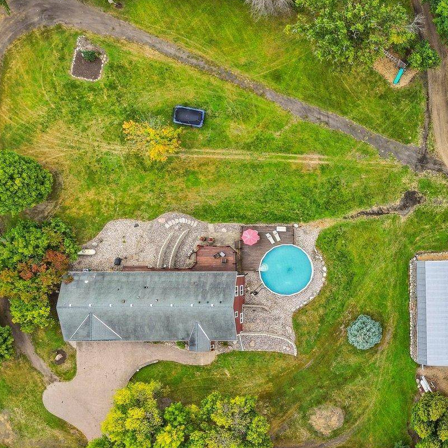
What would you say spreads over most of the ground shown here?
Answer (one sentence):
The bulk of the photo consists of grass.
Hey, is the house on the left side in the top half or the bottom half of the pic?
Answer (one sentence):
Seen from above, the house on the left side lies in the bottom half of the view.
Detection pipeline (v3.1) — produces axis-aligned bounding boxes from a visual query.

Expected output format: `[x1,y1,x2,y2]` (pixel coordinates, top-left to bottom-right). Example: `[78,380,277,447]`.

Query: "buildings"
[415,258,448,366]
[53,272,245,352]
